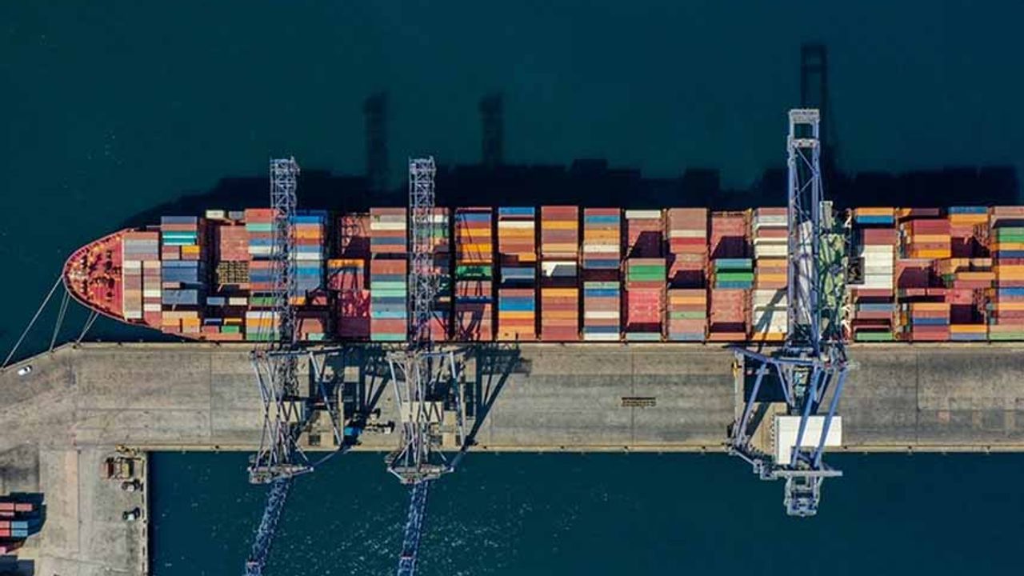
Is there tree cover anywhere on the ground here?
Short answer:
No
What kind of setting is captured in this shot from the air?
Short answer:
port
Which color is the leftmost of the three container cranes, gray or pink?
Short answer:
gray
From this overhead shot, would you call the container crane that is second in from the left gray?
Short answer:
Yes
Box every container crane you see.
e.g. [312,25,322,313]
[386,156,476,576]
[717,109,853,516]
[244,156,360,576]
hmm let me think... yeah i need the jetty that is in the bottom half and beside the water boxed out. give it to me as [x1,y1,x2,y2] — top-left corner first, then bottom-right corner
[148,344,1024,451]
